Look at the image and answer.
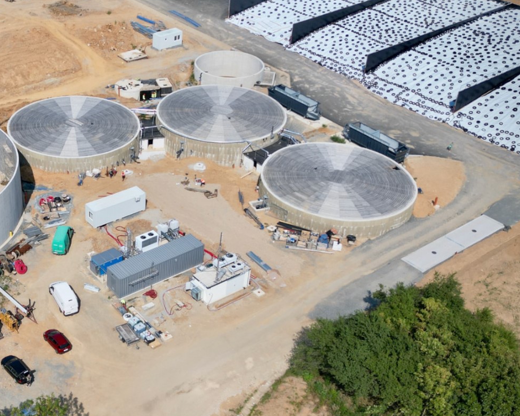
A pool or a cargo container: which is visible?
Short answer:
cargo container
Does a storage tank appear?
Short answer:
Yes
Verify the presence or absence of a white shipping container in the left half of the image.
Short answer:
Yes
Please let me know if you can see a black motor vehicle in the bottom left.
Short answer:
Yes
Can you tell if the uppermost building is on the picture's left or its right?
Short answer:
left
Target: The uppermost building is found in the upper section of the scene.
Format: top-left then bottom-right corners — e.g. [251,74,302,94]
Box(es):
[153,26,183,49]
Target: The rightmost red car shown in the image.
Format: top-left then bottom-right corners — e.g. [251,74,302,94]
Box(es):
[40,324,72,353]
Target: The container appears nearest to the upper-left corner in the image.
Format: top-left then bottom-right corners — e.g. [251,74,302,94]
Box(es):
[86,185,146,227]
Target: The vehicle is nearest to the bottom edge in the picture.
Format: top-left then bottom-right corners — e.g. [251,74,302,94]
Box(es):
[0,352,34,383]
